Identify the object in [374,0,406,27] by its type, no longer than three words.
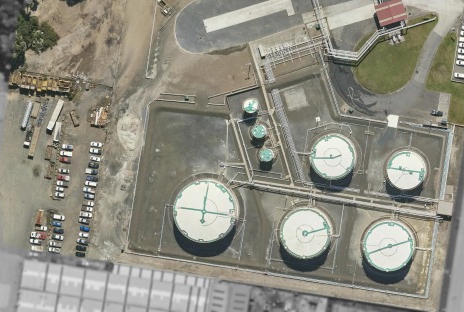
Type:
building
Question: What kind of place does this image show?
industrial area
